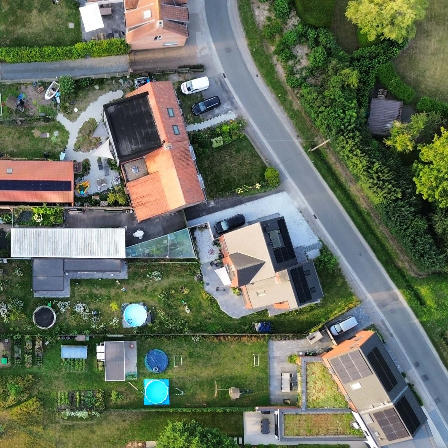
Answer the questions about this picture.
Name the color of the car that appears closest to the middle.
black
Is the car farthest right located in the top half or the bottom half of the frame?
bottom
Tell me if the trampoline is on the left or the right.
left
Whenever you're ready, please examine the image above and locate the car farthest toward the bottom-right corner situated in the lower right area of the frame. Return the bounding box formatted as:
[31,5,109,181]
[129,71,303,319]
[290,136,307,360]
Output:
[327,316,361,336]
